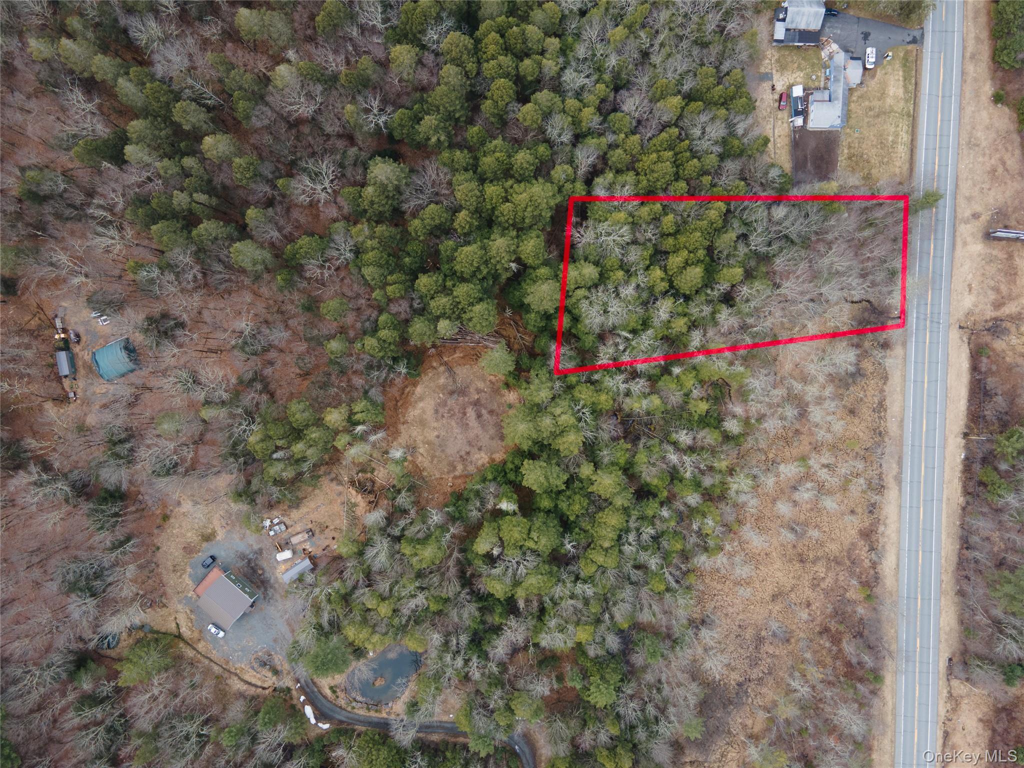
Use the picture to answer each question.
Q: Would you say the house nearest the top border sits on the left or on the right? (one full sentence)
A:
The house nearest the top border is on the right side of the image.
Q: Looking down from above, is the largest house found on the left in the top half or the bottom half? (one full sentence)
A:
The bottom half of the photo is where the largest house found on the left is.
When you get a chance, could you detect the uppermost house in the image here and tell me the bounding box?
[772,0,826,46]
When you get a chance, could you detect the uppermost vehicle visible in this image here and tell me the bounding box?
[824,7,840,19]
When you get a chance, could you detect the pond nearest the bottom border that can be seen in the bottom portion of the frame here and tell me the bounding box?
[347,645,421,703]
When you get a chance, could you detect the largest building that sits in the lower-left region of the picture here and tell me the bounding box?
[198,570,259,630]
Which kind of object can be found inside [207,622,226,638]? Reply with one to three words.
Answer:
car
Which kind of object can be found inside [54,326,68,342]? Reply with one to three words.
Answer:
work vehicle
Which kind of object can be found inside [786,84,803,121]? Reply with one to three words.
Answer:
shed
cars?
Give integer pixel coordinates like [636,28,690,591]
[207,622,226,638]
[864,47,875,69]
[824,7,840,19]
[777,93,786,111]
[200,553,219,569]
